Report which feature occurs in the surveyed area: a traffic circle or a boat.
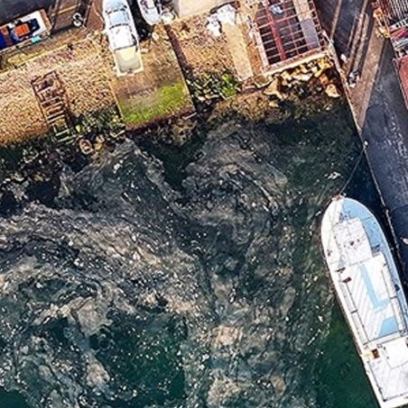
boat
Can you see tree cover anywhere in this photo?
No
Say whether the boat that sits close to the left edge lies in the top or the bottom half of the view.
top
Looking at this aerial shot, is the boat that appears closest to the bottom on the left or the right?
right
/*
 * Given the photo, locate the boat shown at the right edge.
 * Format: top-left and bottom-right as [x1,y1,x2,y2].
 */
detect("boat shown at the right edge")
[320,190,408,408]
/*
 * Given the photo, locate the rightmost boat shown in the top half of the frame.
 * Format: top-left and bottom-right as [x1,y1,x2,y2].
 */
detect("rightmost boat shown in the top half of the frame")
[136,0,161,25]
